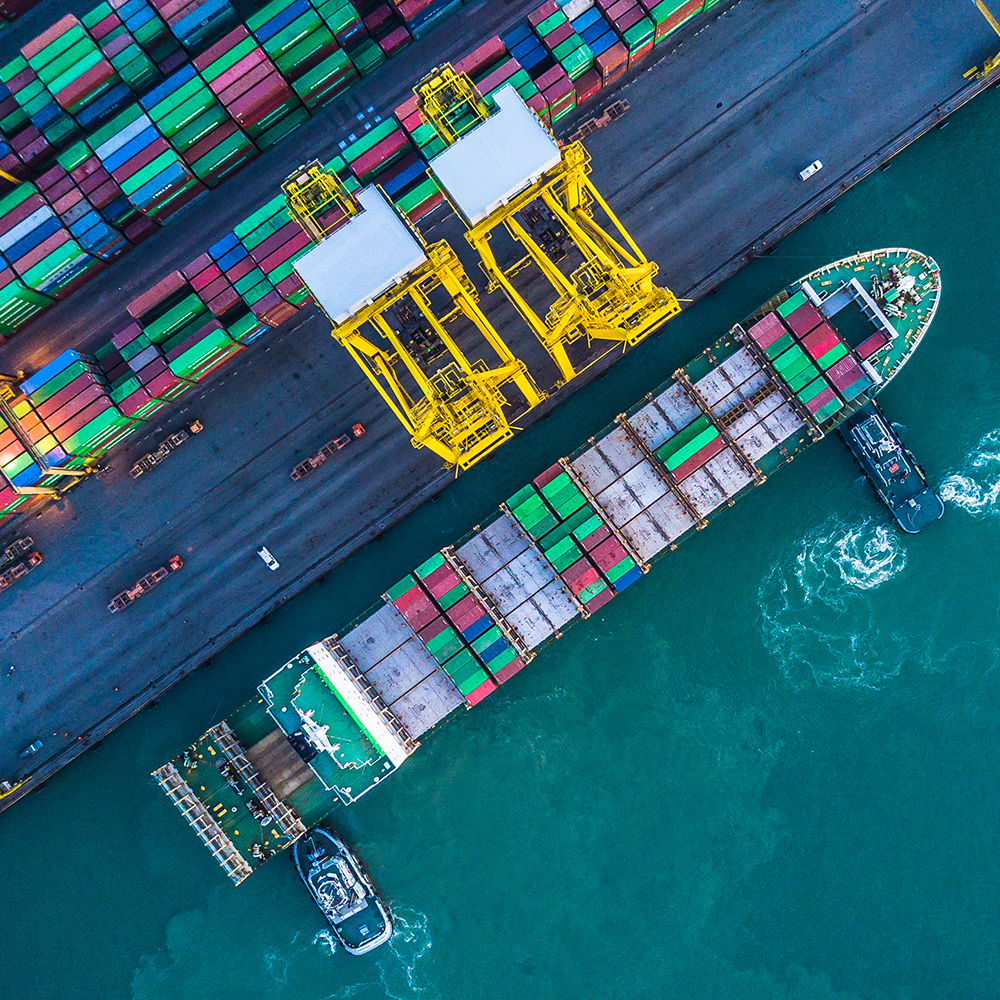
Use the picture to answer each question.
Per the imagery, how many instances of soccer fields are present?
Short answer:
none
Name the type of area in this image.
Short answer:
port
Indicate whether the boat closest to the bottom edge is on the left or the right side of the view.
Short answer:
left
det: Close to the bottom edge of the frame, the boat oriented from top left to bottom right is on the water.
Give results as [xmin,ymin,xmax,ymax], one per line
[292,825,397,959]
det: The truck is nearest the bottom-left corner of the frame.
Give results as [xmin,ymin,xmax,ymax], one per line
[18,736,45,760]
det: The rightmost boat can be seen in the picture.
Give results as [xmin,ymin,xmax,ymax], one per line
[836,396,952,539]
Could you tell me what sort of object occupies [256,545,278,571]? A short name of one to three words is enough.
truck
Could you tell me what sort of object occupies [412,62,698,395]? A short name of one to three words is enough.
container crane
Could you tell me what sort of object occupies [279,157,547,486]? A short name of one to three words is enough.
container crane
